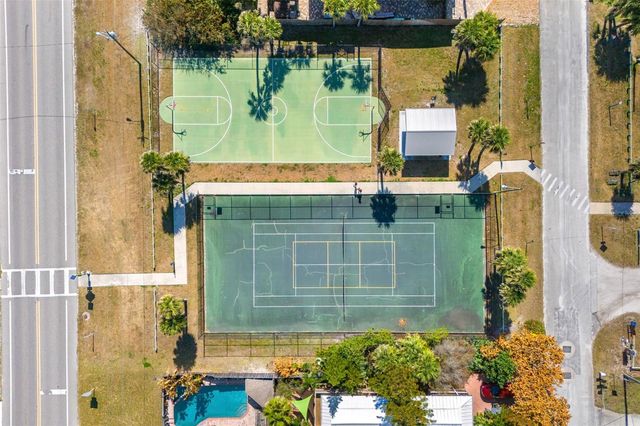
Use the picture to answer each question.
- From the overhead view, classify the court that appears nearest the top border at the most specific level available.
basketball court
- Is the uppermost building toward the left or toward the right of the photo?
right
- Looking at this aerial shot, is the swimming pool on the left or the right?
left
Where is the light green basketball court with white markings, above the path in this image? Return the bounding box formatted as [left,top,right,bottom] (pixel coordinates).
[159,58,385,162]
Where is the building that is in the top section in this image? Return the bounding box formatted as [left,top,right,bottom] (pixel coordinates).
[399,109,456,159]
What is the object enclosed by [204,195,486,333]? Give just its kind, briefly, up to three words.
tennis court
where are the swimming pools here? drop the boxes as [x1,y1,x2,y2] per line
[168,377,262,426]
